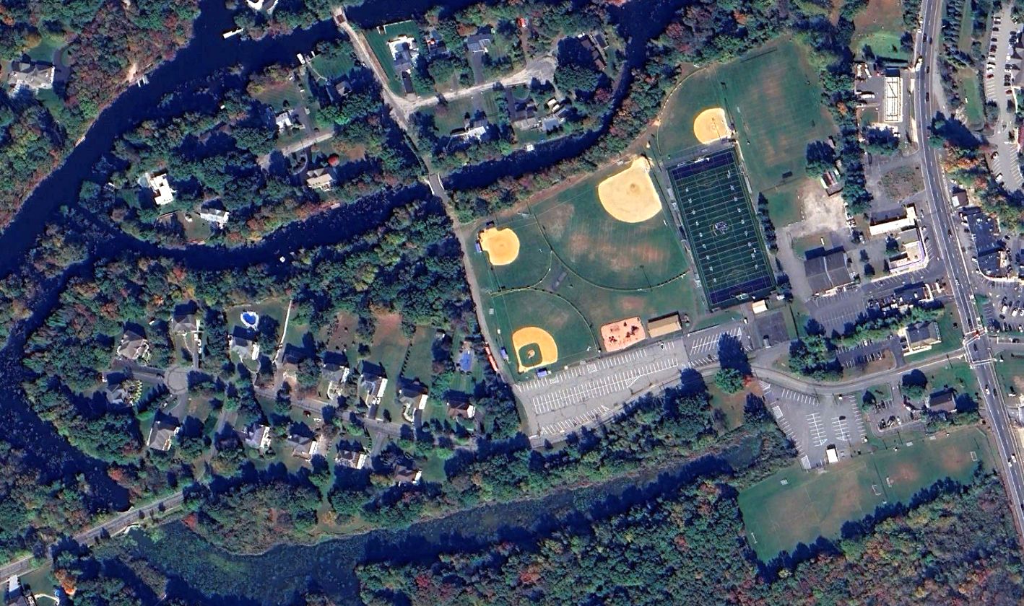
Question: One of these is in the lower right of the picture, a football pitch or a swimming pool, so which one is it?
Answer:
football pitch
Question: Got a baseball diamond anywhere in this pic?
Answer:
Yes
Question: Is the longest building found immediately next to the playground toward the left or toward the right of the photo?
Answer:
right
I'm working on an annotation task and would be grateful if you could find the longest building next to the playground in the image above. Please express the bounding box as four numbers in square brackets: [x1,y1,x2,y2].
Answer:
[648,313,684,339]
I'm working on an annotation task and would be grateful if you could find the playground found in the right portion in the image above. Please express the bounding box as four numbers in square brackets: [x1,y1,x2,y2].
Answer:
[601,317,646,352]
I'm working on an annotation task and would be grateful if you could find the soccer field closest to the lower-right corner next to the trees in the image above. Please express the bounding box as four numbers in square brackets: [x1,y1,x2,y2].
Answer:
[870,426,992,522]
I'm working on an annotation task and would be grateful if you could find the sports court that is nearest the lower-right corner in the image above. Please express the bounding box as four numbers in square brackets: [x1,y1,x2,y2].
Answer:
[755,310,787,344]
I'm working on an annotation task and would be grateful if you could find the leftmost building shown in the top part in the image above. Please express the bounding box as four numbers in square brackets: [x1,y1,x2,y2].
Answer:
[9,64,62,90]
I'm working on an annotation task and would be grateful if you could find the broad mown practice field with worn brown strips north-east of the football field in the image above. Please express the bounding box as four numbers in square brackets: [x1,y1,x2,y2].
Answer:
[721,36,828,182]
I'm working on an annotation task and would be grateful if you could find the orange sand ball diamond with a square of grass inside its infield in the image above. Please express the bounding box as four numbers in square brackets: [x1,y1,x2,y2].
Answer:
[498,290,599,380]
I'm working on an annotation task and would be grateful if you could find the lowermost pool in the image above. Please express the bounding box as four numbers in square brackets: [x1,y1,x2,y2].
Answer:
[241,311,259,330]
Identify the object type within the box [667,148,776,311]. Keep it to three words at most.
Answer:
sports field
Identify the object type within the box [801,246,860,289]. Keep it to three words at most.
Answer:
building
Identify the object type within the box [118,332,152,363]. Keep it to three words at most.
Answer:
house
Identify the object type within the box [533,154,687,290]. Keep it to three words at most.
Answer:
baseball field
